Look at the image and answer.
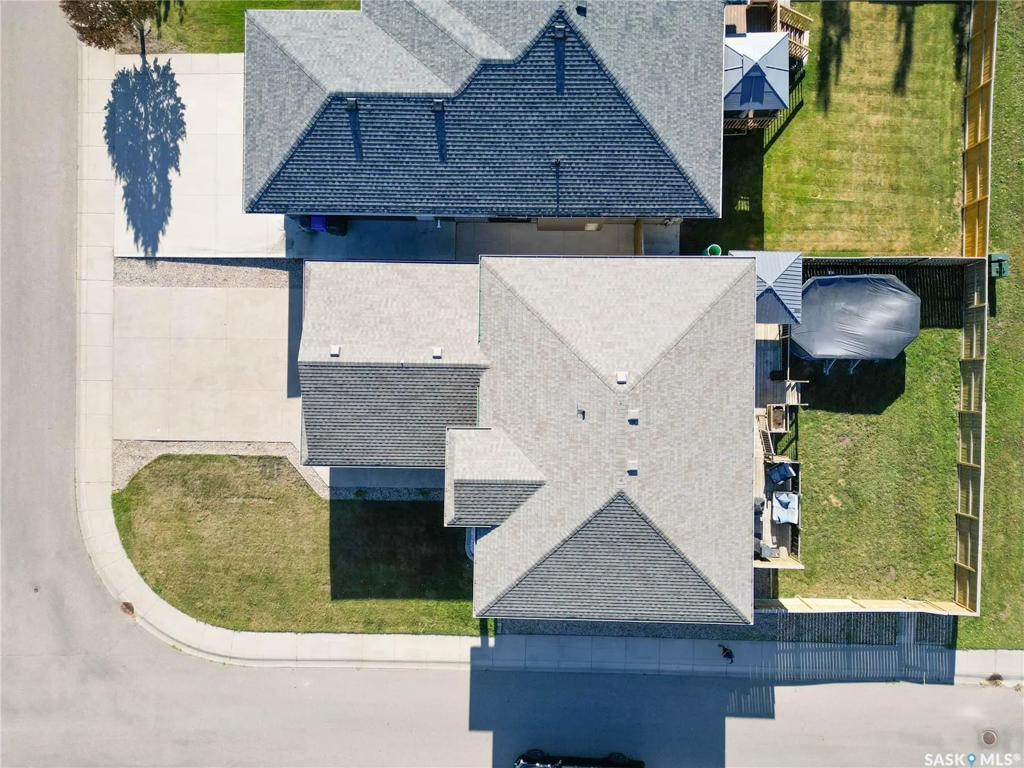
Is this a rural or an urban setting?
urban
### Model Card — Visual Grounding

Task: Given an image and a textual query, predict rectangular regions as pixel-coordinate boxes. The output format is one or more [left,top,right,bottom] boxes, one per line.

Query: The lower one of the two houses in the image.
[302,256,756,622]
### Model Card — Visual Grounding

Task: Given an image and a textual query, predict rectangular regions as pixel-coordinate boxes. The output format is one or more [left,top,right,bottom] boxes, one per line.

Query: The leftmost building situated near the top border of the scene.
[243,0,724,230]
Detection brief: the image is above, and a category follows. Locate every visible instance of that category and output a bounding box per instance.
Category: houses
[243,0,724,230]
[302,256,756,622]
